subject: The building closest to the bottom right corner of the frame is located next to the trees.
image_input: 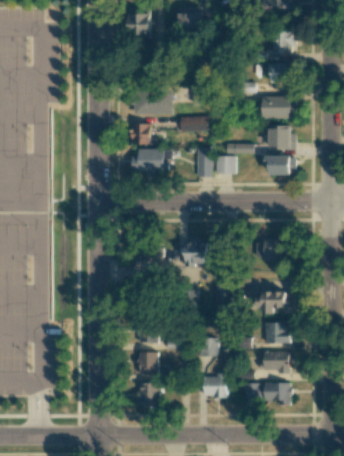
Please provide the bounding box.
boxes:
[264,382,294,406]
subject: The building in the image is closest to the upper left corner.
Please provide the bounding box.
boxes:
[126,12,155,34]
